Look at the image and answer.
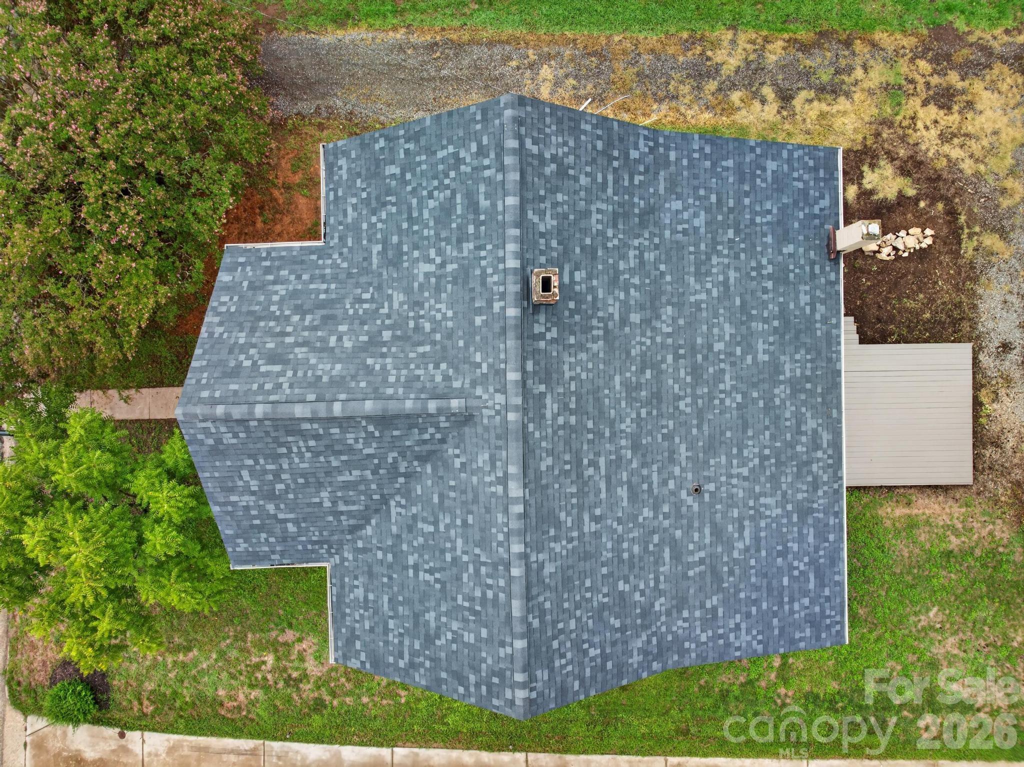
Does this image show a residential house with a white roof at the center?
No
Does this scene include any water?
No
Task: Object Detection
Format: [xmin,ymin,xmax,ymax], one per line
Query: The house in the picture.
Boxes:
[176,93,880,723]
